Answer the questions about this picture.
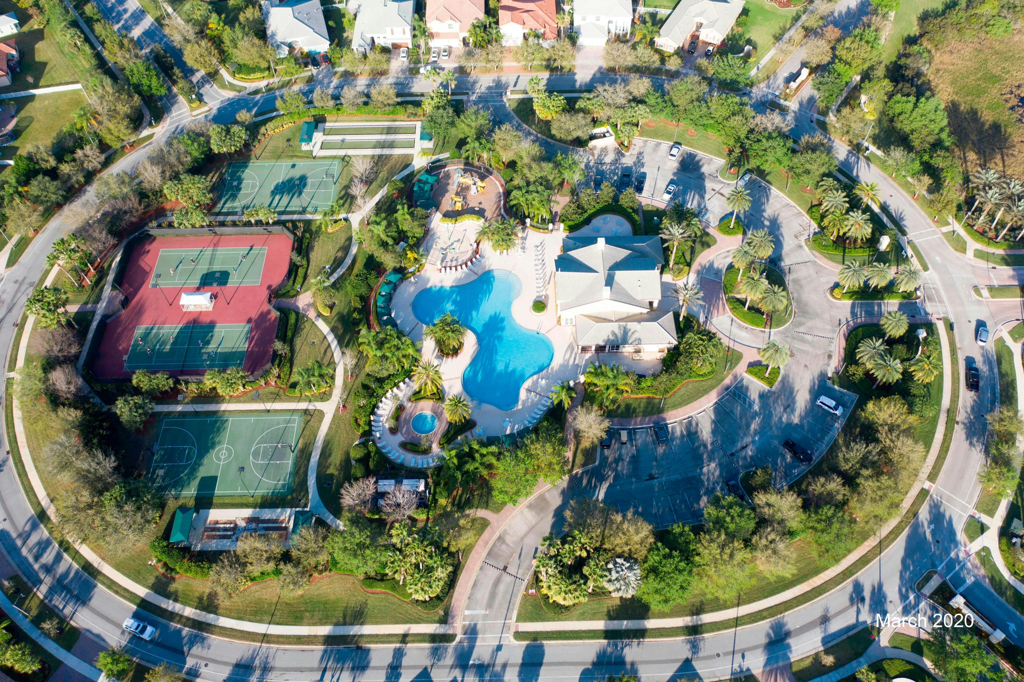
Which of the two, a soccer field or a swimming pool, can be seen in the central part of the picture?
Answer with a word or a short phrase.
swimming pool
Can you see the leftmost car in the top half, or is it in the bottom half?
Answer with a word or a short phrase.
bottom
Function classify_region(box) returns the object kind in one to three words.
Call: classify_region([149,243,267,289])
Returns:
tennis court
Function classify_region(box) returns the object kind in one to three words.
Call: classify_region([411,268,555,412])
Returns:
swimming pool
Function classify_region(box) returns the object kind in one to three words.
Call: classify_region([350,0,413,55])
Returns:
house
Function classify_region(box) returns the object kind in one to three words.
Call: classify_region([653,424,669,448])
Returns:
car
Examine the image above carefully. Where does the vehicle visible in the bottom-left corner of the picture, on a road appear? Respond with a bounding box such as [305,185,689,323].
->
[123,617,155,640]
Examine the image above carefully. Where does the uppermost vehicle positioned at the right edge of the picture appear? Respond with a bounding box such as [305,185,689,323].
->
[975,326,990,347]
